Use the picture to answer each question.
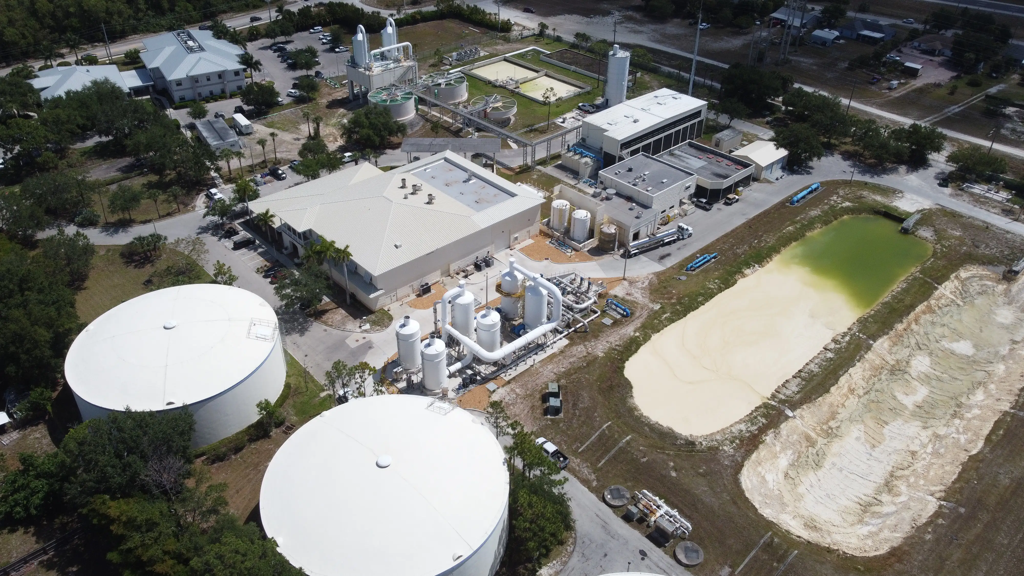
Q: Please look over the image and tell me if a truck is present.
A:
Yes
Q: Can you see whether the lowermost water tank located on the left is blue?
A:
No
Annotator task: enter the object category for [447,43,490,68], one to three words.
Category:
building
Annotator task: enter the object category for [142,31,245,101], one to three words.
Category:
building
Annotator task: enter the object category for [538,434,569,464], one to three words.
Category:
truck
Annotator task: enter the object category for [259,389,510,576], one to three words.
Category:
water tank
